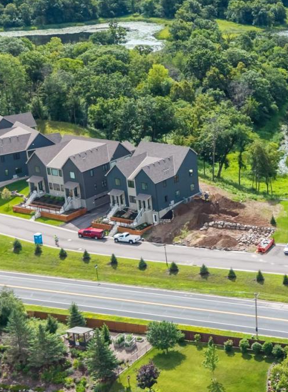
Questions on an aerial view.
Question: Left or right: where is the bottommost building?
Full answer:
The bottommost building is on the left side of the image.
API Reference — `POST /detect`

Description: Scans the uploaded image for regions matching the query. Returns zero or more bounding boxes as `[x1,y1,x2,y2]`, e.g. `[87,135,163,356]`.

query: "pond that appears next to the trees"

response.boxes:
[8,21,161,50]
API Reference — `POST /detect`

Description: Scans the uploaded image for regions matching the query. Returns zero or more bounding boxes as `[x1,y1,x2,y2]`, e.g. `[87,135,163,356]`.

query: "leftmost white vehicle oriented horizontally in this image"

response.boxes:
[113,232,143,245]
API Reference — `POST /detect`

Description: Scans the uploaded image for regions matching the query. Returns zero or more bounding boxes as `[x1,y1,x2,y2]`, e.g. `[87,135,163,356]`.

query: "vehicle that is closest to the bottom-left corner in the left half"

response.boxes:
[78,227,109,240]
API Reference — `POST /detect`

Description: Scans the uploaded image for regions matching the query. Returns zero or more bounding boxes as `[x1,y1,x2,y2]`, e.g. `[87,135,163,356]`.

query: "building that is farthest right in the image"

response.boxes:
[91,144,203,224]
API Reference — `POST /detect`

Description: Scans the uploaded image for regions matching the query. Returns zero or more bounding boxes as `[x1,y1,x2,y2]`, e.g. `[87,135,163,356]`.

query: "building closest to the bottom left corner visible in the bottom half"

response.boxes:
[62,327,91,351]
